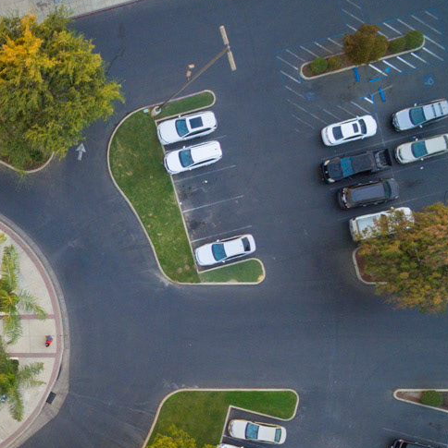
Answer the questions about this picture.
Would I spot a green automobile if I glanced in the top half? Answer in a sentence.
No, there is no green automobile in the top half.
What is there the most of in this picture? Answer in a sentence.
The bulk of the photo consists of paved ground.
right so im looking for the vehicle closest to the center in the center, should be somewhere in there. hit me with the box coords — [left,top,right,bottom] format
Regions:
[191,234,254,268]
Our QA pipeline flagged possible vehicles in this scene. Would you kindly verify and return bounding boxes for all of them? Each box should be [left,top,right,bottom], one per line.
[331,176,396,211]
[315,114,375,149]
[343,206,415,244]
[390,134,448,167]
[386,99,448,135]
[160,142,223,176]
[315,144,395,186]
[154,110,217,147]
[191,234,254,268]
[224,417,285,446]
